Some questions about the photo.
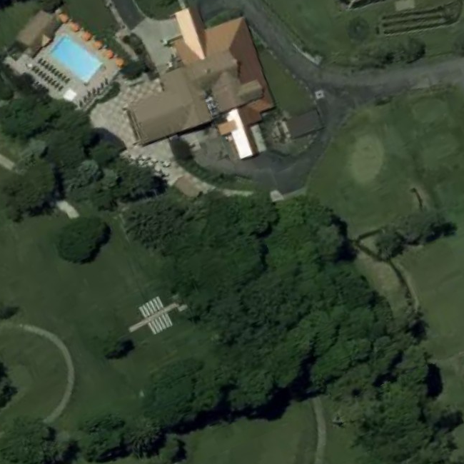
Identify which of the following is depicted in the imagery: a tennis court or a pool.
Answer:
pool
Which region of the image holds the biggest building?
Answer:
top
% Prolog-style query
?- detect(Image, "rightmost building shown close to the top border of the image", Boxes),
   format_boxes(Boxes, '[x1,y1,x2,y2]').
[128,9,274,162]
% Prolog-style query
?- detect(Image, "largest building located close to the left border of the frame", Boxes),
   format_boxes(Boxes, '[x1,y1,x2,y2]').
[14,10,58,55]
